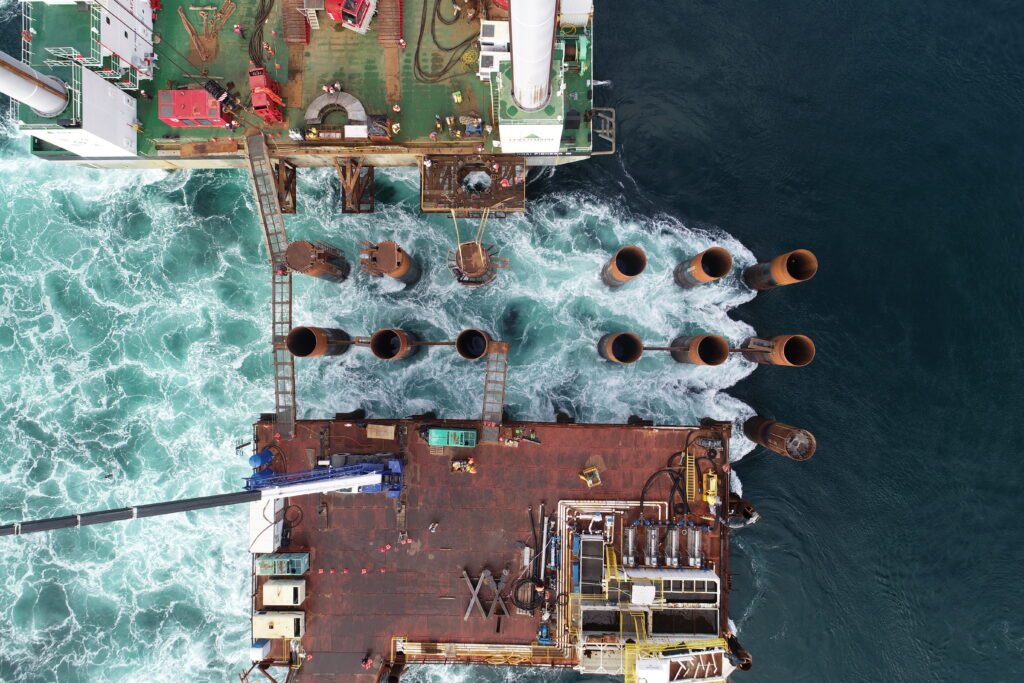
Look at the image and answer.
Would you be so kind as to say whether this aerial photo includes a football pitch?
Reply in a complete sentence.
No, no football pitch is visible in the scene.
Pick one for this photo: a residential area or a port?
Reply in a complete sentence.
The picture captures a port.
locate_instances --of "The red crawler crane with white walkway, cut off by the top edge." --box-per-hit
[283,0,407,49]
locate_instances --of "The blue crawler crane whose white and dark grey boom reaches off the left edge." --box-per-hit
[0,451,406,537]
